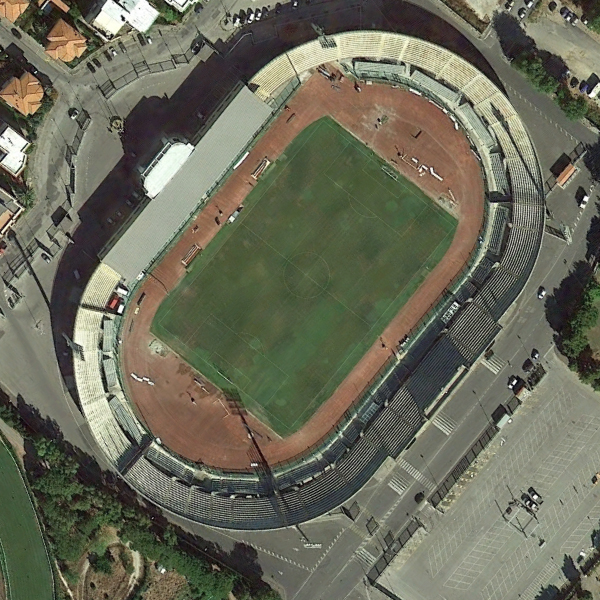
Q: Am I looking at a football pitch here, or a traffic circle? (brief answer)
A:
football pitch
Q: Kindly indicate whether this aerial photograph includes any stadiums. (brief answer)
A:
Yes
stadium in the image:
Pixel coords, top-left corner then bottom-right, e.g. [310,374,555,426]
[69,26,548,532]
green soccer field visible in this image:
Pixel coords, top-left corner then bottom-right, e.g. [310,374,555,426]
[150,116,458,440]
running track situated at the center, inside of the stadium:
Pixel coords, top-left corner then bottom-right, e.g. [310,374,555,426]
[122,64,485,469]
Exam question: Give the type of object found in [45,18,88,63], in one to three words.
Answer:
house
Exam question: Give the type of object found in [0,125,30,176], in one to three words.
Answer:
building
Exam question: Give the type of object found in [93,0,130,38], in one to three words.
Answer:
building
